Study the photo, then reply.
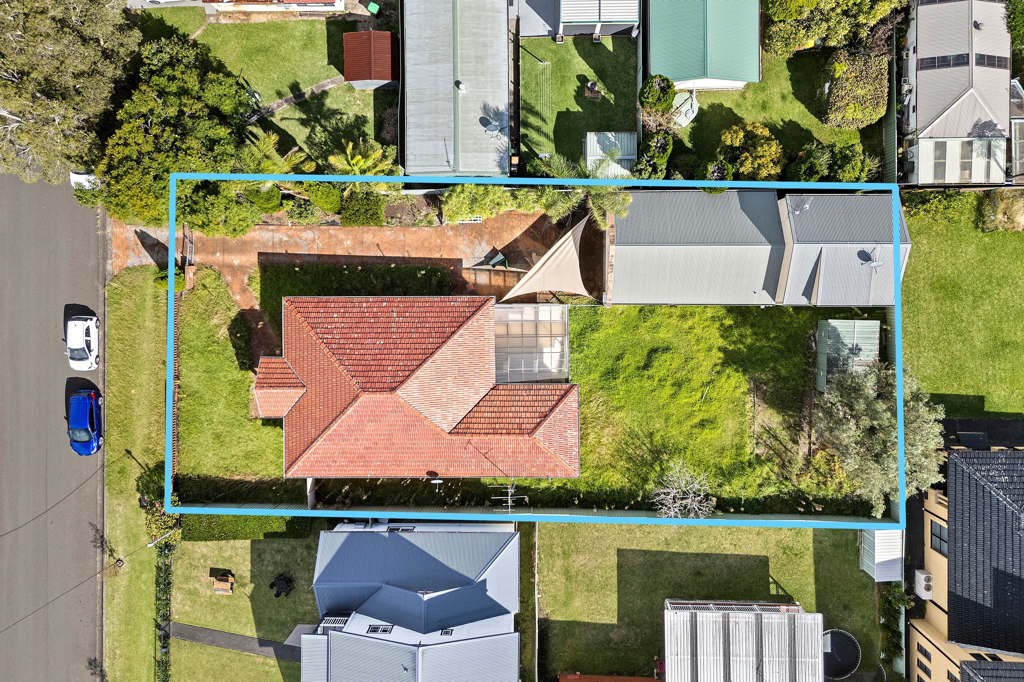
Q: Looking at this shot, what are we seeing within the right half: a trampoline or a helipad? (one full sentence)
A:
What appears within the right half is a trampoline.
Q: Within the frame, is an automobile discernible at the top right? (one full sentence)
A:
No, no automobile appears at the top right.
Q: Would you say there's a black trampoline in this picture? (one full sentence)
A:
Yes, this view includes a black trampoline.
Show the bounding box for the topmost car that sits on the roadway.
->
[61,318,98,373]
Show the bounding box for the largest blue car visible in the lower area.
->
[63,392,102,458]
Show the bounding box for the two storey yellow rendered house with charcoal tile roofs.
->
[914,446,1024,682]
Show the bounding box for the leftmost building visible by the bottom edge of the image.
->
[299,523,524,682]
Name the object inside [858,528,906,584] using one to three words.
shed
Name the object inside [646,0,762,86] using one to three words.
building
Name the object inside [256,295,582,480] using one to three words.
house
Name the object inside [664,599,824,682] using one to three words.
house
